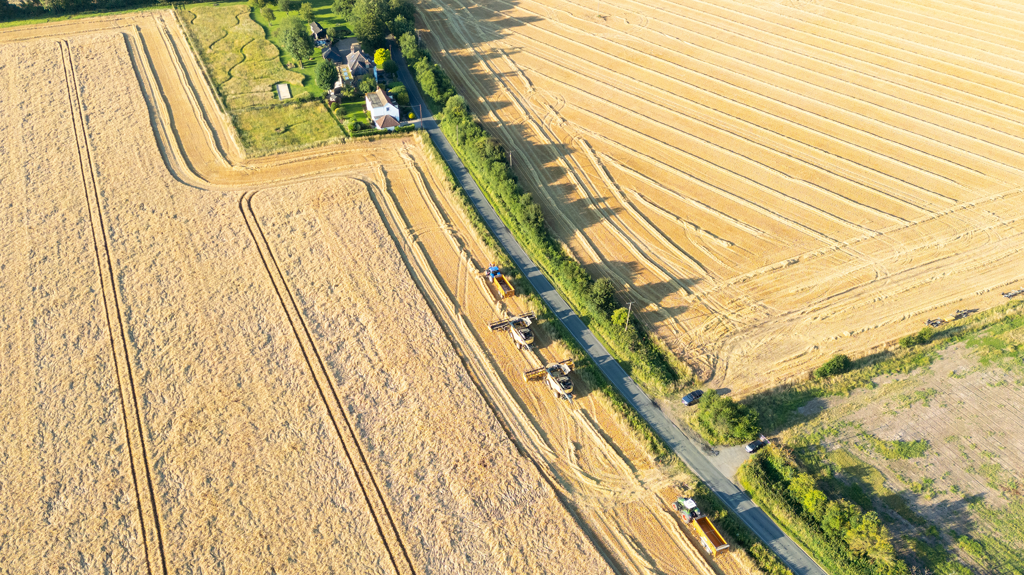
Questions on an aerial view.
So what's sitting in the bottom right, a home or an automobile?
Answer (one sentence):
There is an automobile in the bottom right.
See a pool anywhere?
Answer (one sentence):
No, I can see no pool in this picture.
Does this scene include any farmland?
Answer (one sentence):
Yes, there's farmland in this view.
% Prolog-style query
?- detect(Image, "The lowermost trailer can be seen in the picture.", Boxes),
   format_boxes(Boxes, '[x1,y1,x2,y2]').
[691,512,731,559]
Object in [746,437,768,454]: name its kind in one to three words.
car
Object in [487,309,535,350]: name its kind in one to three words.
work vehicle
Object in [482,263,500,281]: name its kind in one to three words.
work vehicle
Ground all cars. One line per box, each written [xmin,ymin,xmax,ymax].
[746,437,768,454]
[682,389,704,407]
